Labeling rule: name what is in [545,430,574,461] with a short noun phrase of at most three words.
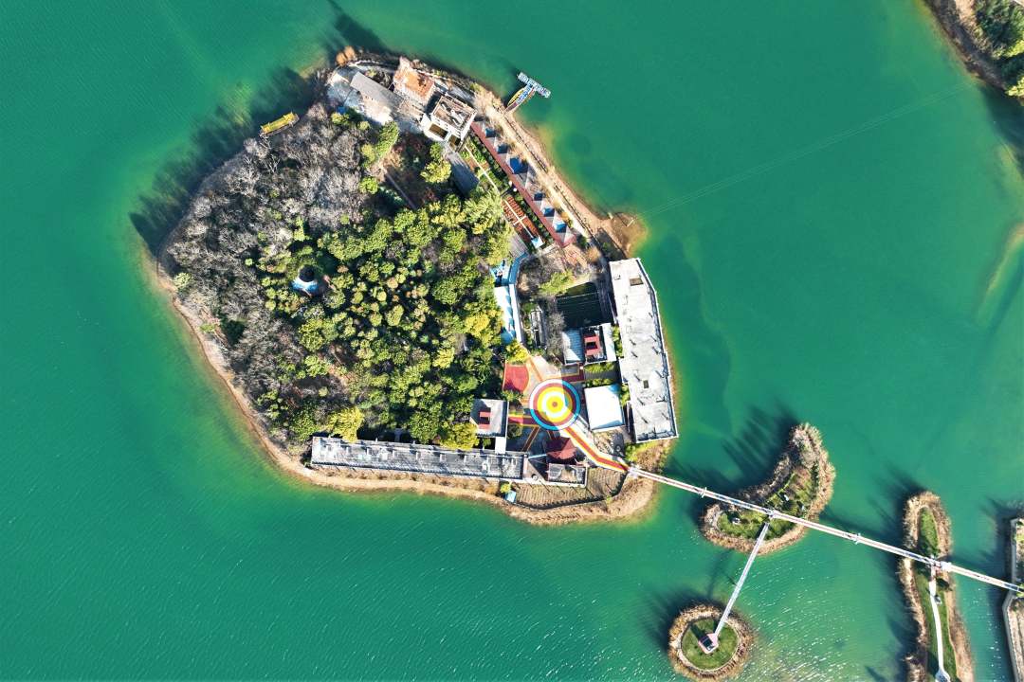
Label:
building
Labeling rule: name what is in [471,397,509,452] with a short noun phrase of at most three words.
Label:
house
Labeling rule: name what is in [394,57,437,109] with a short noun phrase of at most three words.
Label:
house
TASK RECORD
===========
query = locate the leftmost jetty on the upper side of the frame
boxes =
[503,70,551,114]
